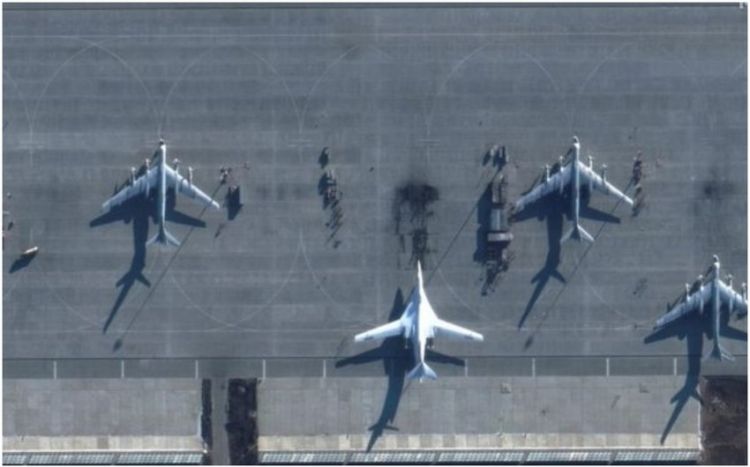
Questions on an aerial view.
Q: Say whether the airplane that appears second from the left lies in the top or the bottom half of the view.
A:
bottom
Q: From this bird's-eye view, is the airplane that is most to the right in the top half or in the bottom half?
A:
bottom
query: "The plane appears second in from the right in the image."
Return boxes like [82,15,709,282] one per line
[519,137,634,247]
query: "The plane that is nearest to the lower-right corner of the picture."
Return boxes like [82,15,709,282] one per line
[660,251,750,367]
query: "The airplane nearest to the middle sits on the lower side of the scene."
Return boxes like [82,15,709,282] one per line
[357,261,486,382]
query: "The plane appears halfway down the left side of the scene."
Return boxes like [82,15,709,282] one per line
[104,135,220,249]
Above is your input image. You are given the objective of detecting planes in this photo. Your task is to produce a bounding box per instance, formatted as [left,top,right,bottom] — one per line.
[660,251,750,367]
[357,261,486,382]
[519,137,634,247]
[104,135,220,249]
